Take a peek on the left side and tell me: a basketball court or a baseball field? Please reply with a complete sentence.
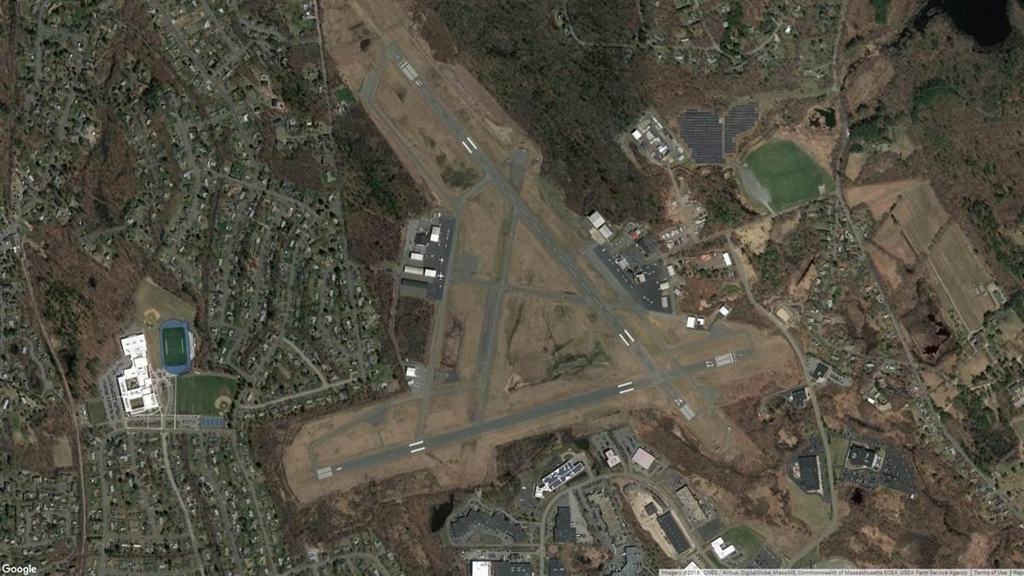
The feature located on the left side is a baseball field.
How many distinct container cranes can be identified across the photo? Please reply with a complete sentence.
I count no container cranes.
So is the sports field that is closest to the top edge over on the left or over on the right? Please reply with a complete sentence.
You can find the sports field that is closest to the top edge on the right side of the picture.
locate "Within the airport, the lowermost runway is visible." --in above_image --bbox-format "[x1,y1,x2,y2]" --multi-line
[313,346,755,480]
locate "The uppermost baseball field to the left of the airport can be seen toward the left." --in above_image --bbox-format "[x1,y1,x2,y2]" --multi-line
[136,278,196,328]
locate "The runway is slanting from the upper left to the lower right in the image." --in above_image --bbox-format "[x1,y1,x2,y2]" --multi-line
[385,41,698,423]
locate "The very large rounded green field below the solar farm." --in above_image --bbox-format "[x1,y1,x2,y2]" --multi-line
[739,140,834,212]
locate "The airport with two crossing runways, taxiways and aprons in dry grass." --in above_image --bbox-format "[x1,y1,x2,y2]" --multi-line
[307,41,755,480]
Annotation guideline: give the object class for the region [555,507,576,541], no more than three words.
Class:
building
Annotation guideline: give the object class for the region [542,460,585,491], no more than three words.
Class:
building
